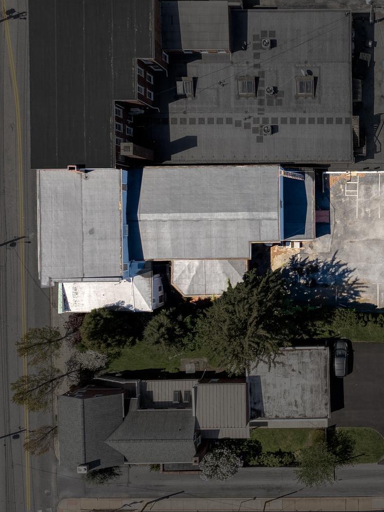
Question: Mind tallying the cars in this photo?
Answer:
1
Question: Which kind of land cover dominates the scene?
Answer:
buildings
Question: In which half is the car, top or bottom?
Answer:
bottom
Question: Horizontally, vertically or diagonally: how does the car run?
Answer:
vertically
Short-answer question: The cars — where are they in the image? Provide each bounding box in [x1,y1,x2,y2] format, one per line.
[331,338,351,377]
